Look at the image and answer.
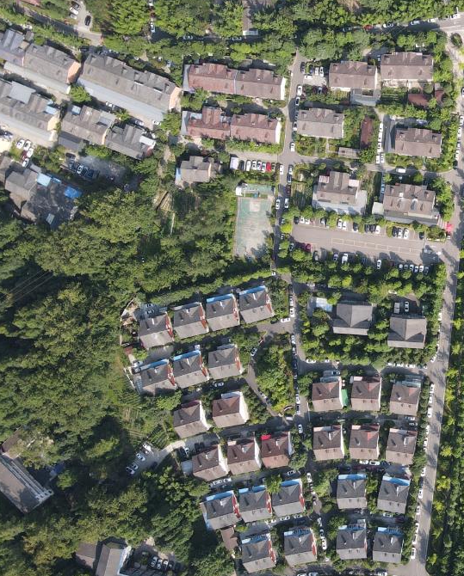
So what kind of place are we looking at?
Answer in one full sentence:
This looks like a residential area.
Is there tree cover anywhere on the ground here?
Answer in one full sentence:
Yes, there is tree cover in the image.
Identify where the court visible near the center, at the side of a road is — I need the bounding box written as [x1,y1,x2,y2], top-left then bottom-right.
[235,196,271,257]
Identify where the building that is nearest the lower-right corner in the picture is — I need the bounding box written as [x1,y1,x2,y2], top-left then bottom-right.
[372,522,404,563]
